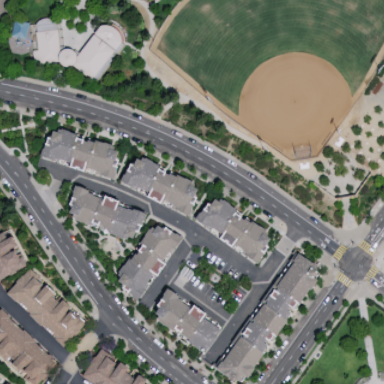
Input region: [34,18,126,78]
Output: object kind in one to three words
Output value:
building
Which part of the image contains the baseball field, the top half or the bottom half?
top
